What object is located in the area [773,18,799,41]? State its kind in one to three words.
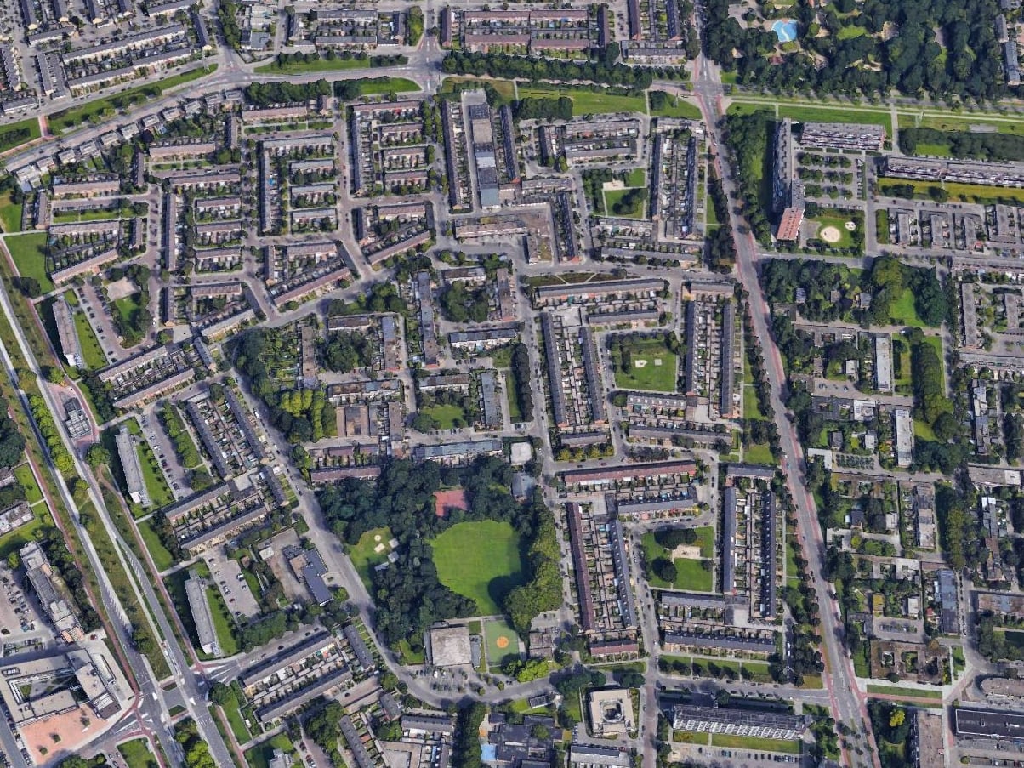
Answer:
swimming pool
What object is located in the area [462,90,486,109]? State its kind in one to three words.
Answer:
building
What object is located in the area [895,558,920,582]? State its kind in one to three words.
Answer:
house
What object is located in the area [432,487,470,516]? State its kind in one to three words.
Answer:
sports court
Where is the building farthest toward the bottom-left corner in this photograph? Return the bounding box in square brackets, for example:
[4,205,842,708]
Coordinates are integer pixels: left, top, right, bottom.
[0,649,124,725]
